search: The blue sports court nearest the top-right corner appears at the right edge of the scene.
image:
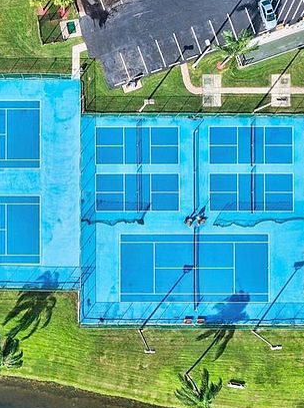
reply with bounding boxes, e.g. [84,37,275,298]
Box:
[210,127,293,164]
